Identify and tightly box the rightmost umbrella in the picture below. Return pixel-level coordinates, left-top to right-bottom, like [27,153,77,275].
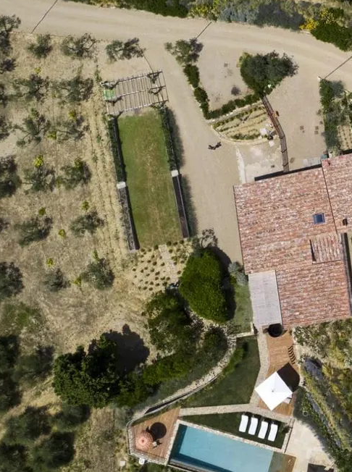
[255,371,292,410]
